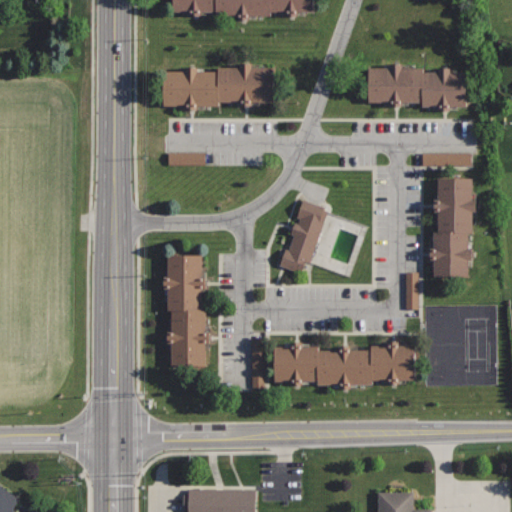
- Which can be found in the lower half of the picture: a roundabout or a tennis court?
tennis court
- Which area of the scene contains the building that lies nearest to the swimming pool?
center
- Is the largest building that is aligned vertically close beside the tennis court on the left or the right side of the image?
right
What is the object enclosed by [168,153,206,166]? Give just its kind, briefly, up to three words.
building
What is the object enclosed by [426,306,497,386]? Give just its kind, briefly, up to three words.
tennis court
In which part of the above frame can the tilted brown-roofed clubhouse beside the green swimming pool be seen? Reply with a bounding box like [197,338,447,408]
[280,200,328,272]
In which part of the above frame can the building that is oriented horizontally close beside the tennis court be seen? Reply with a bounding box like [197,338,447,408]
[274,343,415,390]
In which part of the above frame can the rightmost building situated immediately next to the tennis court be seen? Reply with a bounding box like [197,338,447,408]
[430,178,476,277]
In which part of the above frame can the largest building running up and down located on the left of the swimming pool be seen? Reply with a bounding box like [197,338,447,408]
[164,255,210,368]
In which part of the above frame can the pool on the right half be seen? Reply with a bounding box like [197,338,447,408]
[312,212,368,278]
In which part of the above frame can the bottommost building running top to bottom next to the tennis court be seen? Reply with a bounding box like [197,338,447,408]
[406,274,419,310]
